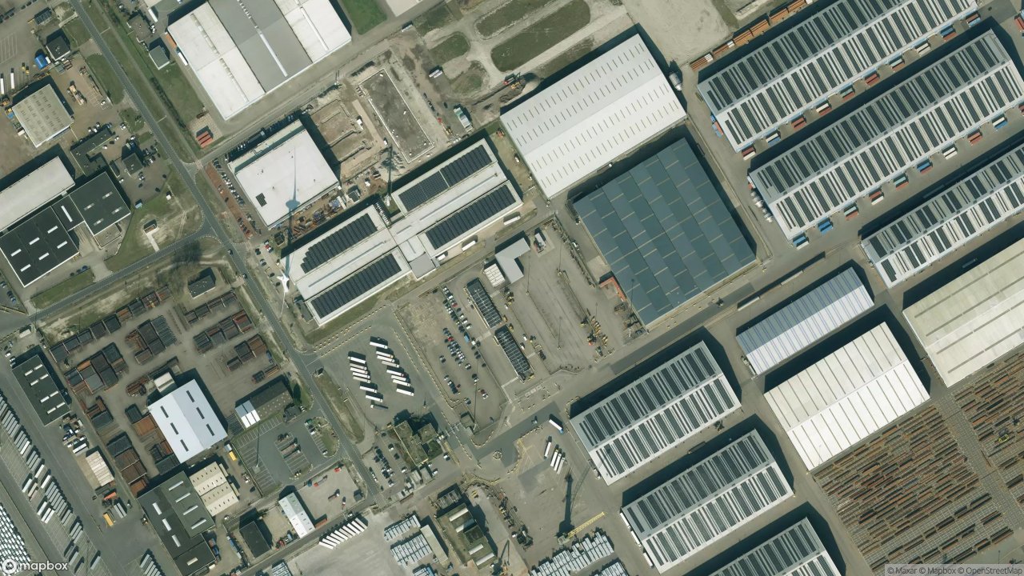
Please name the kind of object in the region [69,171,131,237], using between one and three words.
building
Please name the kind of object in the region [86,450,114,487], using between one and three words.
shed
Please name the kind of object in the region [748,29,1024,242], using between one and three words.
warehouse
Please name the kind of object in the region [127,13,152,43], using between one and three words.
house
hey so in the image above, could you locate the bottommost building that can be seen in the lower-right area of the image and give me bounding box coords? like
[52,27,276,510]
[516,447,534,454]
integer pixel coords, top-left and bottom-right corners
[705,517,841,576]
